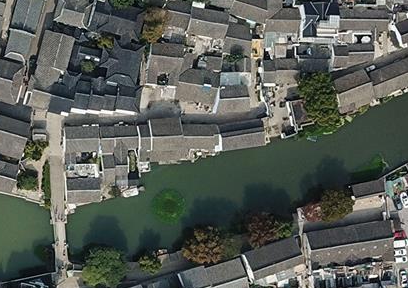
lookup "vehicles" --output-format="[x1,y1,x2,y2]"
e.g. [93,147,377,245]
[396,239,408,248]
[400,191,408,209]
[394,231,408,239]
[391,256,408,263]
[392,194,402,212]
[399,269,408,287]
[396,249,408,256]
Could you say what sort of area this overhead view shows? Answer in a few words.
residential area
